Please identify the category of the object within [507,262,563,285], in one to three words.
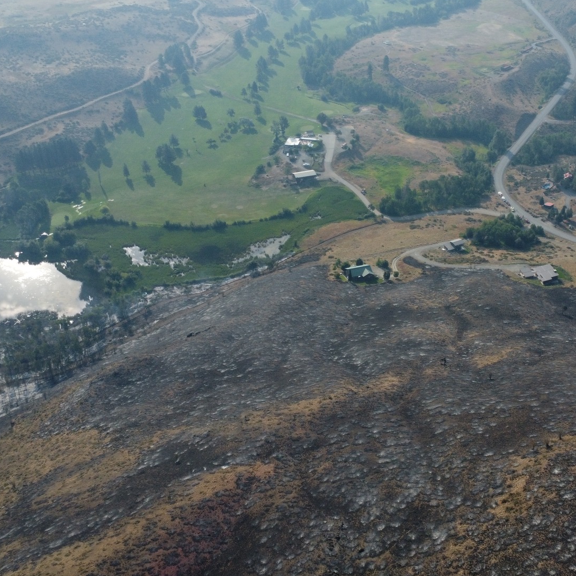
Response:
house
